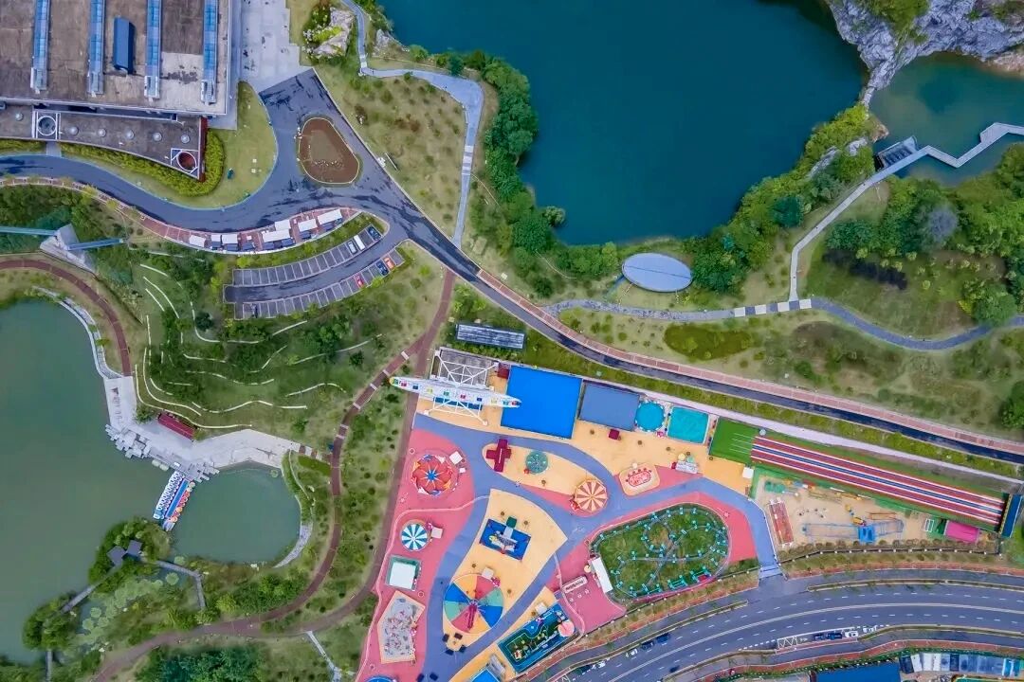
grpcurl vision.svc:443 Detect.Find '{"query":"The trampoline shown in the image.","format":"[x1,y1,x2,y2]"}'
[385,554,421,590]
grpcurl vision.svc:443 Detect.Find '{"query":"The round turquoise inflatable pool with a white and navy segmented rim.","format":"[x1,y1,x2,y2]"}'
[636,401,666,431]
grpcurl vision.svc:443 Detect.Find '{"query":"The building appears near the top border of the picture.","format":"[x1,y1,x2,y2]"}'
[0,0,241,183]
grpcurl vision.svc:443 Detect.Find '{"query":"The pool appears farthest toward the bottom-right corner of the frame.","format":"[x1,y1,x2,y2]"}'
[667,407,709,443]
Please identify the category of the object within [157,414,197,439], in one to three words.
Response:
building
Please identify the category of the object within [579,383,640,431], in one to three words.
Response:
building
